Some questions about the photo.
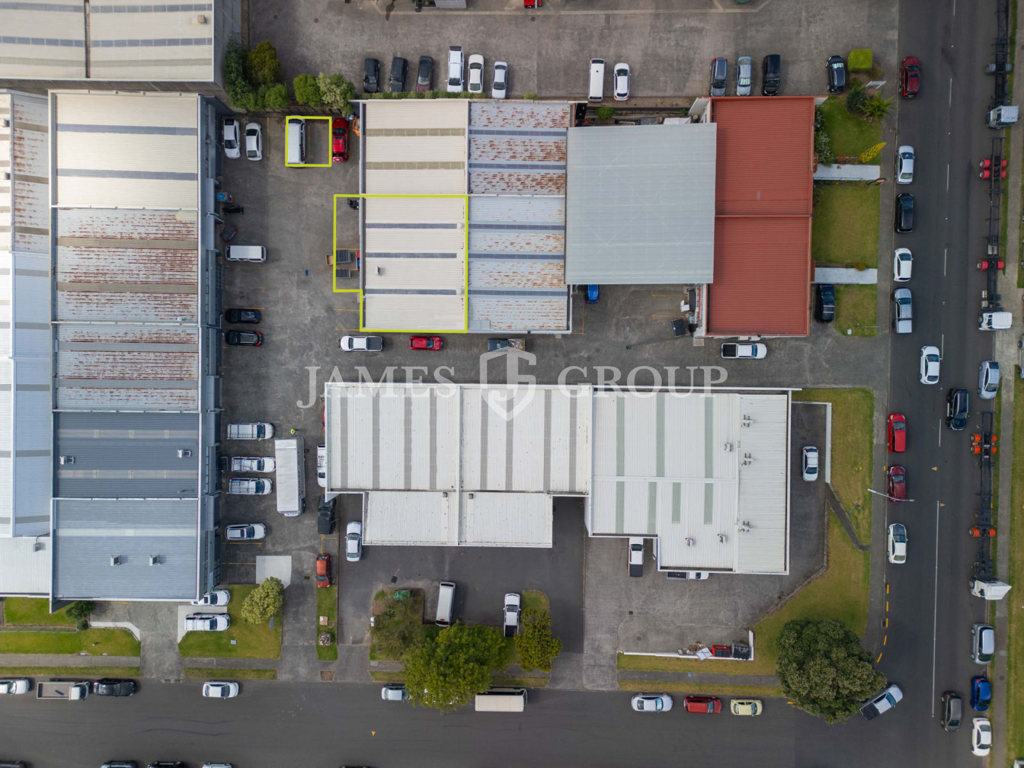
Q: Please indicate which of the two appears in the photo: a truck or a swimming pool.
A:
truck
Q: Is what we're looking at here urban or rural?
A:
urban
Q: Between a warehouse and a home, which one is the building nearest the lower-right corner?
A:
warehouse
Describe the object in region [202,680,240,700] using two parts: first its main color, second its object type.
white car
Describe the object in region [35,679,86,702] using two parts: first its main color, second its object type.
gray truck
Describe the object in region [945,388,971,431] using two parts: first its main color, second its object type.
black car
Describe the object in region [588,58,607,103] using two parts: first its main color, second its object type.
white vehicle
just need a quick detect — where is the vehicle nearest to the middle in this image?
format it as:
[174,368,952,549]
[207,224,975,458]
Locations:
[487,338,525,354]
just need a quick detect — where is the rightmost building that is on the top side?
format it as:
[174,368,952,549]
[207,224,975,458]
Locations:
[687,95,828,341]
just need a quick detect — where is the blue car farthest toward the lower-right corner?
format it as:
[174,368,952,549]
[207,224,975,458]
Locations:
[969,674,992,710]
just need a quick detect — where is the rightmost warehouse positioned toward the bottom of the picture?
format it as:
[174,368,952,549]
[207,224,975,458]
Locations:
[583,385,802,575]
